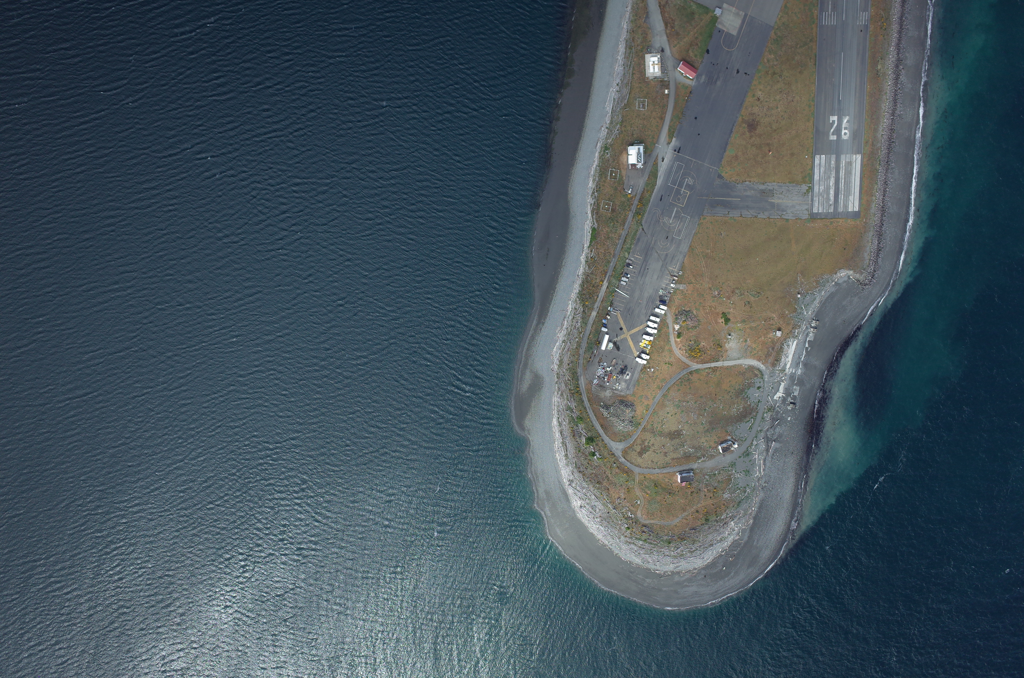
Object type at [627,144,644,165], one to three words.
building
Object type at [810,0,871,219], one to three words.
runway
